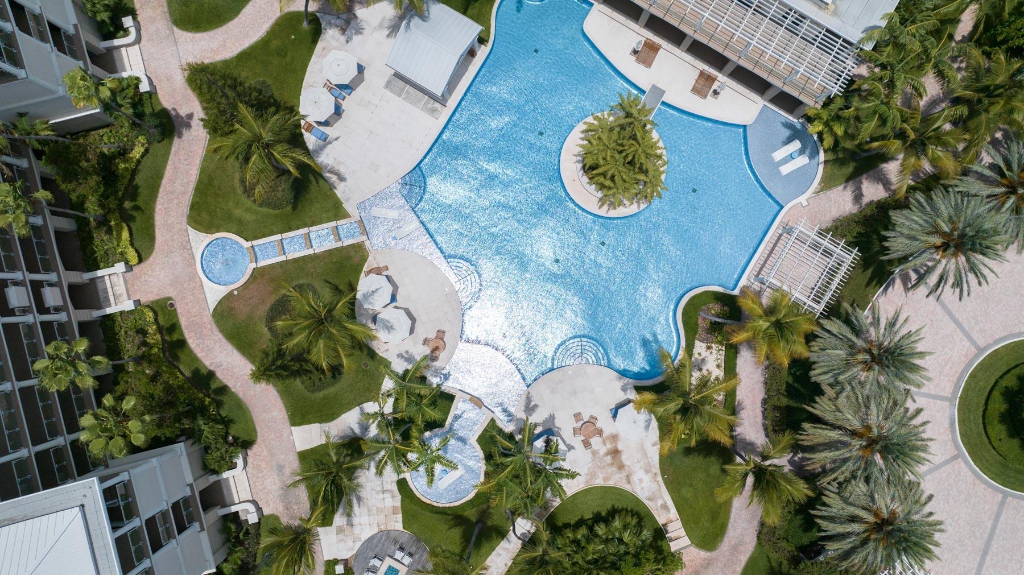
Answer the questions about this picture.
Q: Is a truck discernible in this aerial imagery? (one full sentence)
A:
No, there appears to be no truck in this shot.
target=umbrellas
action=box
[615,402,649,438]
[325,53,360,88]
[710,80,729,98]
[629,36,644,56]
[301,87,337,123]
[360,274,395,309]
[378,307,412,341]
